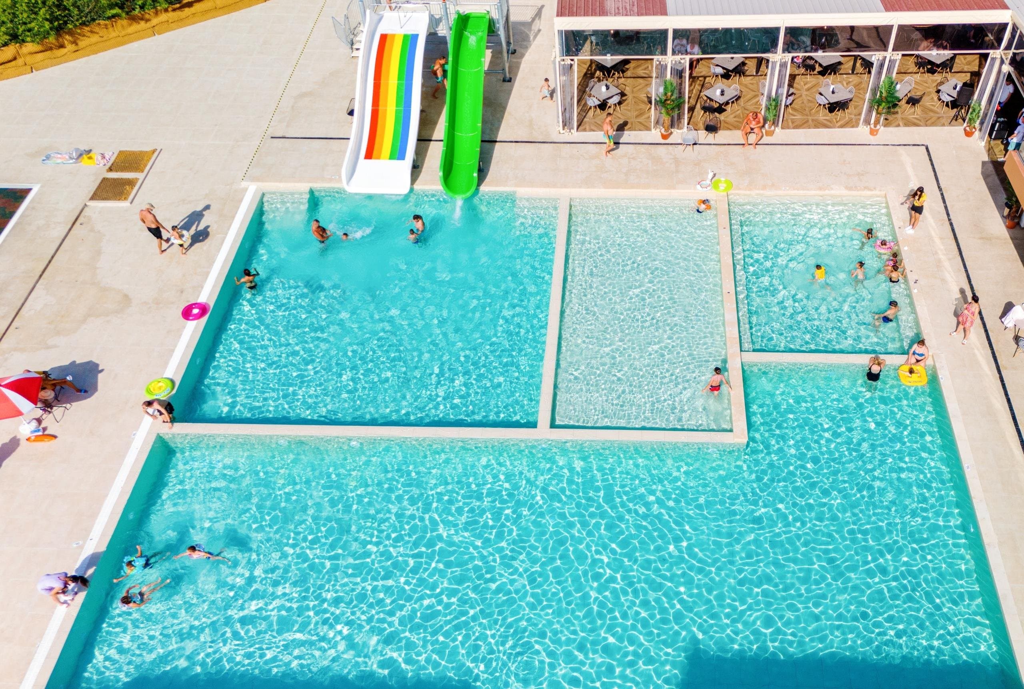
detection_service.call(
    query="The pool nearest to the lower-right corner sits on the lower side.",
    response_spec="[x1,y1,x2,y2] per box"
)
[47,188,1018,689]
